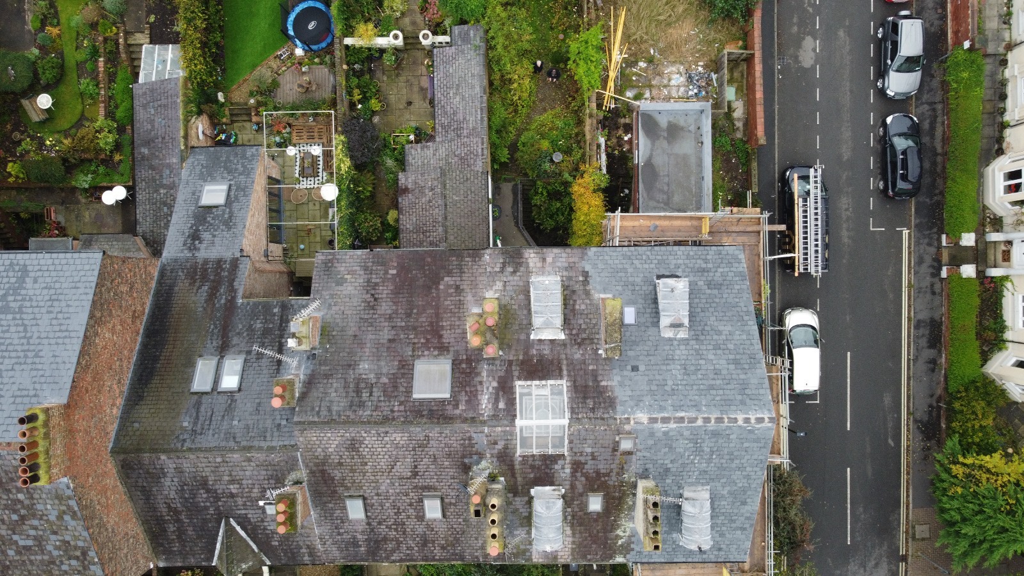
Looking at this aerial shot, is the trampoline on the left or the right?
left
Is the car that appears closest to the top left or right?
right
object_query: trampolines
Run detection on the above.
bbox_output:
[277,0,330,55]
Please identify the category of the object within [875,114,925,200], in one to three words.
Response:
car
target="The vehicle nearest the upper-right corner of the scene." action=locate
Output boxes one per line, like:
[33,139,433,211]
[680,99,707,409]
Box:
[877,11,928,99]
